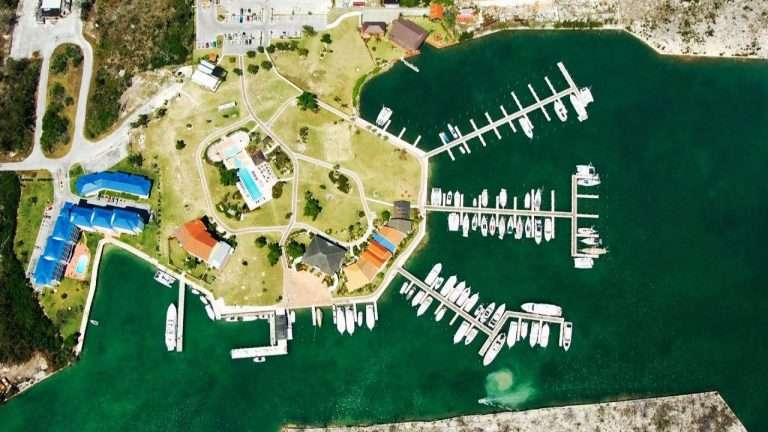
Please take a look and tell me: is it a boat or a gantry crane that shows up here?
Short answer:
boat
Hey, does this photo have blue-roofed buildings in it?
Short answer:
Yes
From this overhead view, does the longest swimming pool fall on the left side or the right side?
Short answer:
left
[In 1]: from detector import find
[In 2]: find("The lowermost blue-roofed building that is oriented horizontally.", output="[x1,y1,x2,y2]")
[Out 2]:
[69,206,146,235]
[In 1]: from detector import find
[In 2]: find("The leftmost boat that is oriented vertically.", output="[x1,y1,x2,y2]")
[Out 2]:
[163,303,176,352]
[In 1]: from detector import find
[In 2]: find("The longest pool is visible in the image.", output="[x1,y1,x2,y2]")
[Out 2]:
[238,167,262,200]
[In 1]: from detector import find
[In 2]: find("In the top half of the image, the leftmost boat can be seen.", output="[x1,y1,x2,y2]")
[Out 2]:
[376,106,391,127]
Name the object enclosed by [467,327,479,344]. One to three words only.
boat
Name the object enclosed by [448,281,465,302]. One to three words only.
boat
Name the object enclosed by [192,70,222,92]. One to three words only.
building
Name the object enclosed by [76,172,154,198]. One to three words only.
building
